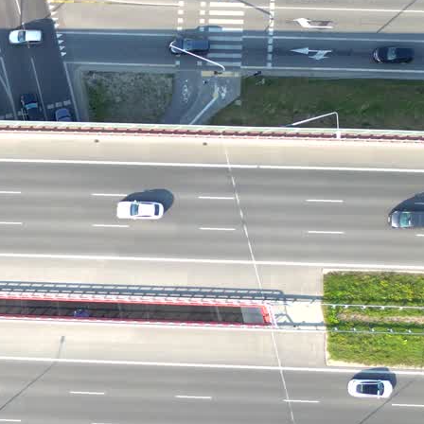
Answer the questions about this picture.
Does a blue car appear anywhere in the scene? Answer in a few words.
Yes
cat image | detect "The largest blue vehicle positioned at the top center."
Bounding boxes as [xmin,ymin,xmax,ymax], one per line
[169,36,211,56]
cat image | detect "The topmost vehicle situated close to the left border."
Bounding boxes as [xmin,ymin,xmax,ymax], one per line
[7,27,43,46]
